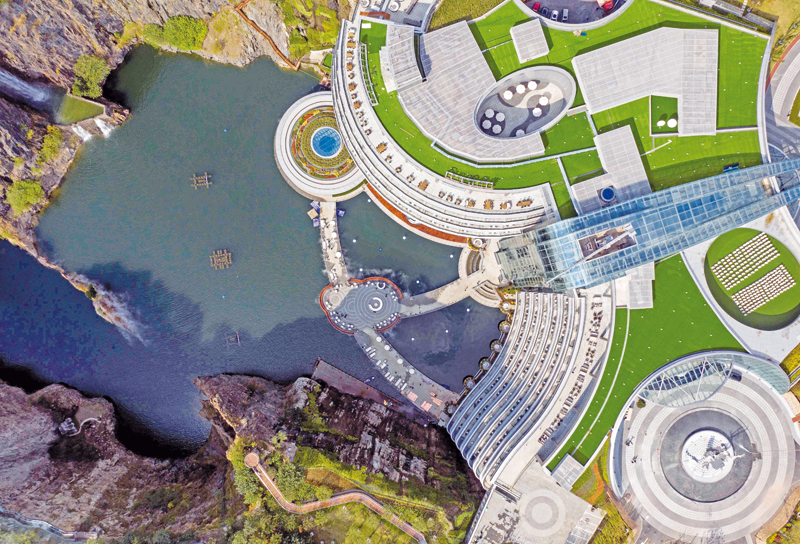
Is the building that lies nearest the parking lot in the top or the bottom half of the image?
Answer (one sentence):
The building that lies nearest the parking lot sits in the top half of the picture.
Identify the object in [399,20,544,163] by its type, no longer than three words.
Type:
building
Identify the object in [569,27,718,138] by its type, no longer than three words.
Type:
building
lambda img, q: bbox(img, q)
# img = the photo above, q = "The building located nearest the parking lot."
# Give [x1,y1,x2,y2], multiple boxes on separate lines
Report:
[508,18,549,67]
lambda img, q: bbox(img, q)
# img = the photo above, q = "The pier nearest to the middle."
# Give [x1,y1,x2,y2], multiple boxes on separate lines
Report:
[312,360,448,431]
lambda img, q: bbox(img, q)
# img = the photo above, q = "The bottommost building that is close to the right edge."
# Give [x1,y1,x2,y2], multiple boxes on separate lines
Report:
[603,349,795,500]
